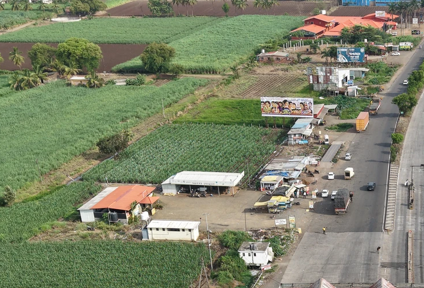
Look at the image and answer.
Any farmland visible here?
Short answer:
Yes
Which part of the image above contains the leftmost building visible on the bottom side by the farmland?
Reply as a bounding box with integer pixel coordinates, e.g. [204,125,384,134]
[75,180,156,224]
